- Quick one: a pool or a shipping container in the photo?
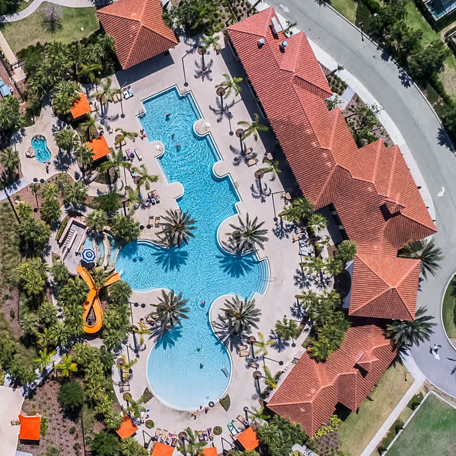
pool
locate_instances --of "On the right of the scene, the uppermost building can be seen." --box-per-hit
[227,5,438,274]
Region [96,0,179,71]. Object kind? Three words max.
building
